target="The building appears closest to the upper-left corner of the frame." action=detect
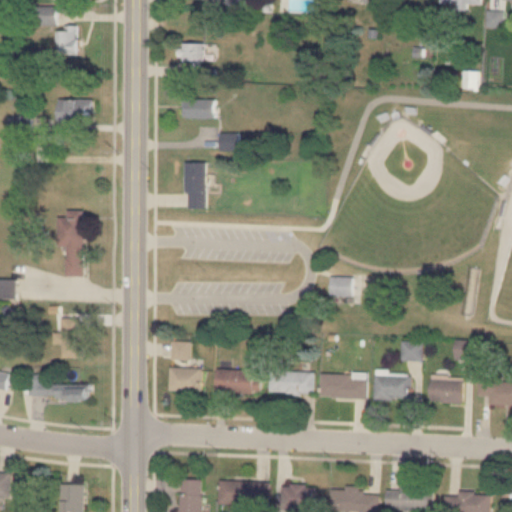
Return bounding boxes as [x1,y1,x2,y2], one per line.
[34,6,57,26]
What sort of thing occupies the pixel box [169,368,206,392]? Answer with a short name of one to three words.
house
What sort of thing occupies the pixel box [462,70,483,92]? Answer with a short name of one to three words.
barn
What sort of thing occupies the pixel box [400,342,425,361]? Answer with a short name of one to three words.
building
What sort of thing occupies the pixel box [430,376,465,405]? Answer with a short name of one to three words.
house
